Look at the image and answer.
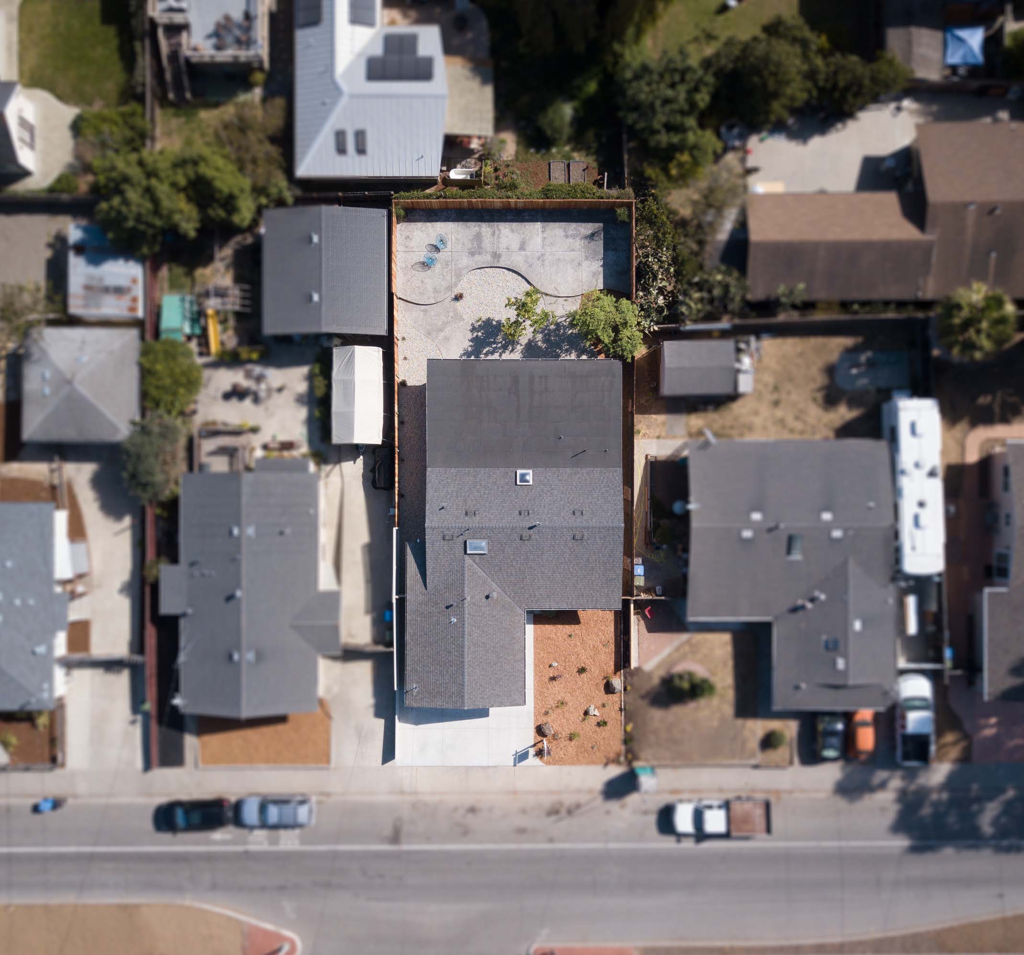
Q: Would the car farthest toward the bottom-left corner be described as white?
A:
No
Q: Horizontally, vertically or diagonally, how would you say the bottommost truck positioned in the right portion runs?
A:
horizontally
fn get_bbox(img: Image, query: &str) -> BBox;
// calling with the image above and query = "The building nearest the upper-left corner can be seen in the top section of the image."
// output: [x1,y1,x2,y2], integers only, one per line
[0,85,36,174]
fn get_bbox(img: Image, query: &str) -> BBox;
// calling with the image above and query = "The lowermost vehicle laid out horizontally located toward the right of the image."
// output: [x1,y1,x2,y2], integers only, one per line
[674,797,768,837]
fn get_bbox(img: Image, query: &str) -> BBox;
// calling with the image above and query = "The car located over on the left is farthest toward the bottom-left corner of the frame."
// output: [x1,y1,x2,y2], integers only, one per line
[158,797,231,836]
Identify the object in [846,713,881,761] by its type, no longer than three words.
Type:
car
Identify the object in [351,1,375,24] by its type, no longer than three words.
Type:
solar panel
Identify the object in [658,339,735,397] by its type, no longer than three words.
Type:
shed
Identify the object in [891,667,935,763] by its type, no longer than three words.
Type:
truck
